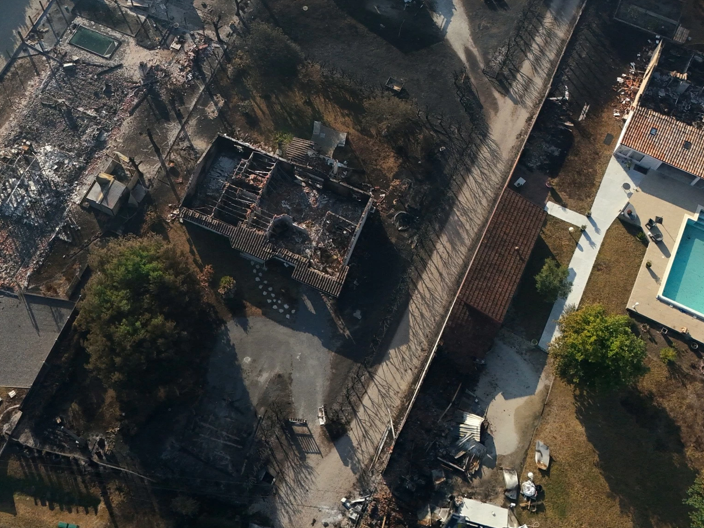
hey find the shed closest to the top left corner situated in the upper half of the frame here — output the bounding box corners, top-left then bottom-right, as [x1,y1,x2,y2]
[87,154,142,218]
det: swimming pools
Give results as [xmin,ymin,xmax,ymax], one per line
[65,20,126,64]
[657,205,704,315]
